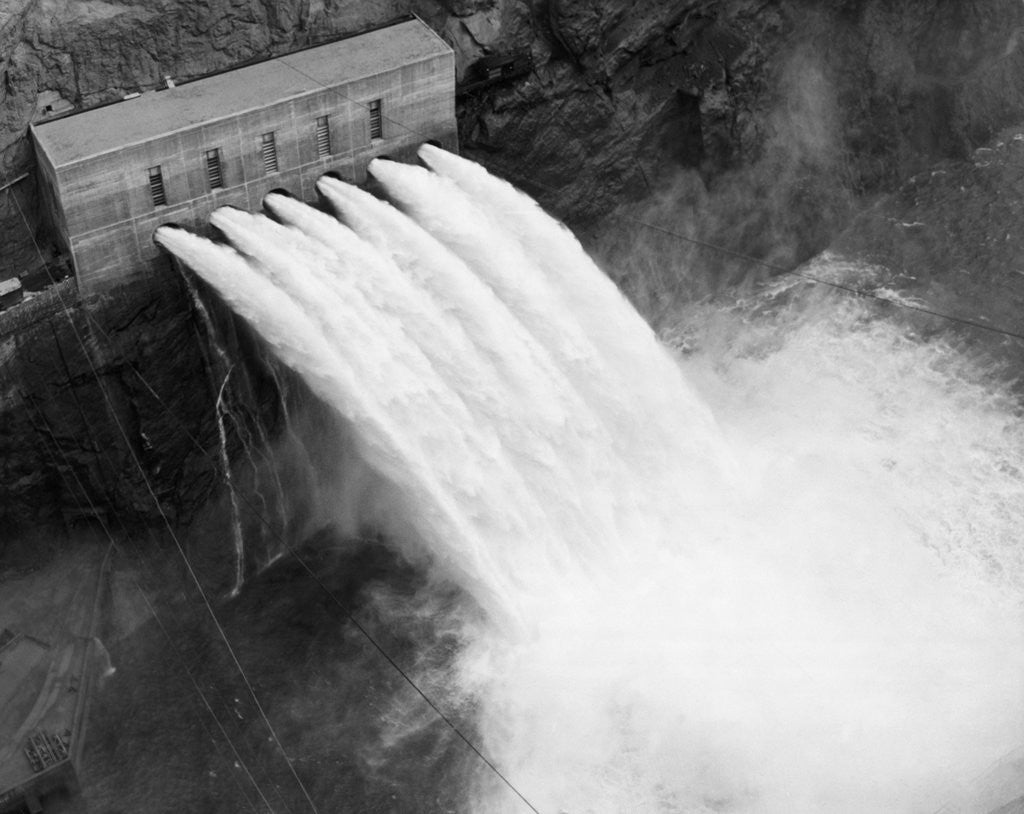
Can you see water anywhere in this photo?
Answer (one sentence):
Yes, the picture does contain water.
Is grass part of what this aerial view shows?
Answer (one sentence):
No, grass can't be seen anywhere here.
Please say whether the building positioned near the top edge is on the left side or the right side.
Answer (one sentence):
The building positioned near the top edge is on the left side of the image.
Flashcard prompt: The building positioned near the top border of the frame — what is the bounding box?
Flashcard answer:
[26,15,456,293]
